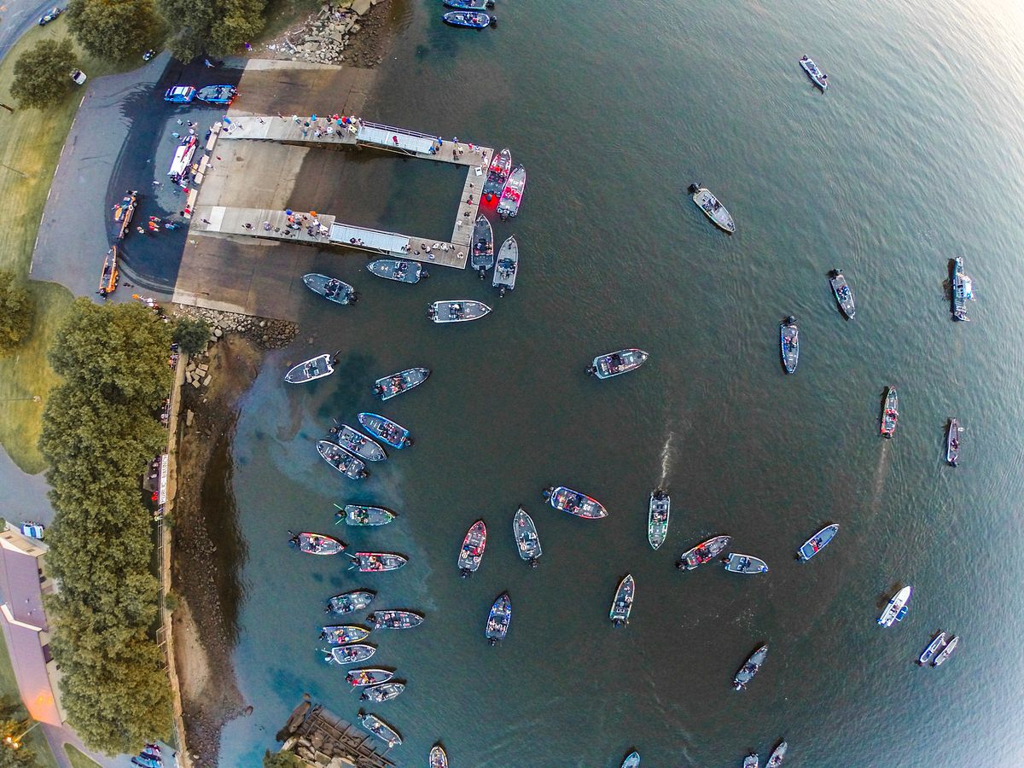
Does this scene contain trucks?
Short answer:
Yes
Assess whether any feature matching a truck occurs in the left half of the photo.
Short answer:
Yes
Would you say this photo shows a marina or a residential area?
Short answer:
marina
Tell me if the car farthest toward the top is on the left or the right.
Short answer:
left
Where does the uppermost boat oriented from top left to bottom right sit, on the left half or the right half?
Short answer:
right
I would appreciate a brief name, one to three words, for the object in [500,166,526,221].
boat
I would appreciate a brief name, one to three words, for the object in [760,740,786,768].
boat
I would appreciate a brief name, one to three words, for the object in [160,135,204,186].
truck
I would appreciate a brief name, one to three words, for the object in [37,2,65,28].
car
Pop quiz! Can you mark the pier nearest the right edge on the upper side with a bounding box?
[406,139,494,270]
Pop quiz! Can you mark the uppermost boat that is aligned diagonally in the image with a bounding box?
[799,50,828,90]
